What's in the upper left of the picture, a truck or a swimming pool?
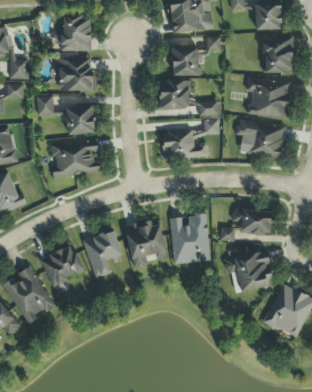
swimming pool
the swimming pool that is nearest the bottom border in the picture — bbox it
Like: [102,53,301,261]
[39,58,57,84]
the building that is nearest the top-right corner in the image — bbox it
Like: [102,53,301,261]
[256,2,283,30]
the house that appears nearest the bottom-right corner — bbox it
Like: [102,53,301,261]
[266,286,312,338]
